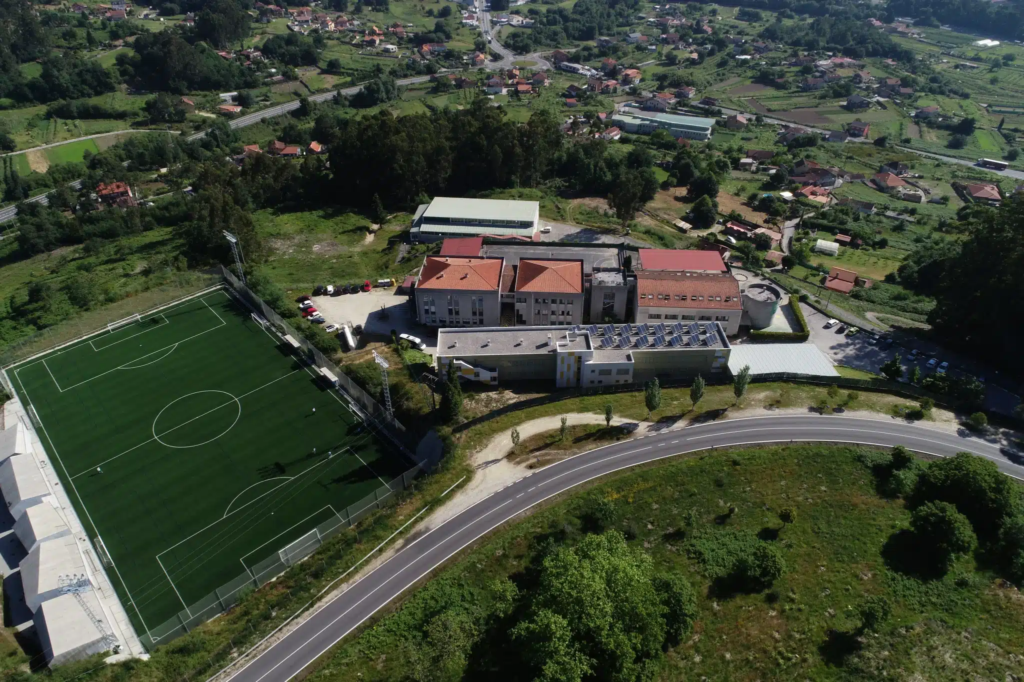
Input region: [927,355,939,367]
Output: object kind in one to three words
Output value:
vehicle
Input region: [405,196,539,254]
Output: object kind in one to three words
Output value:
building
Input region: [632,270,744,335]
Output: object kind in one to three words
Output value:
building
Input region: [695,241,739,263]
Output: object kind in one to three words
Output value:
house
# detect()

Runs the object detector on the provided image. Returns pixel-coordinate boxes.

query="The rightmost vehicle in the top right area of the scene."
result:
[979,154,1013,170]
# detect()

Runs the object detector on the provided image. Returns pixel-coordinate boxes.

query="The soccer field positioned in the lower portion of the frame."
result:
[3,282,435,660]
